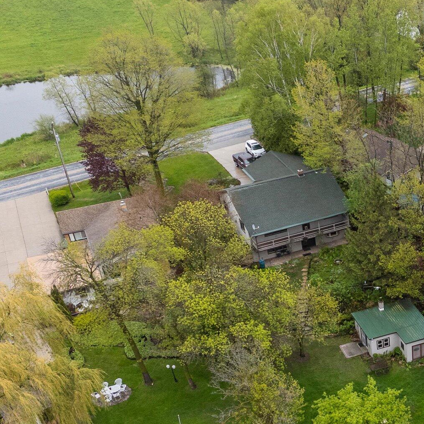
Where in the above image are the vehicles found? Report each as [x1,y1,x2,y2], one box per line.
[246,137,266,154]
[230,145,253,164]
